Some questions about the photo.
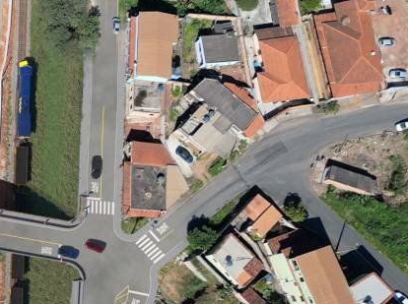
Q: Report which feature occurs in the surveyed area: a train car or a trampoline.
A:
train car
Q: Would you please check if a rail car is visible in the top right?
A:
No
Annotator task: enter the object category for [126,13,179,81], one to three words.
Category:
house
